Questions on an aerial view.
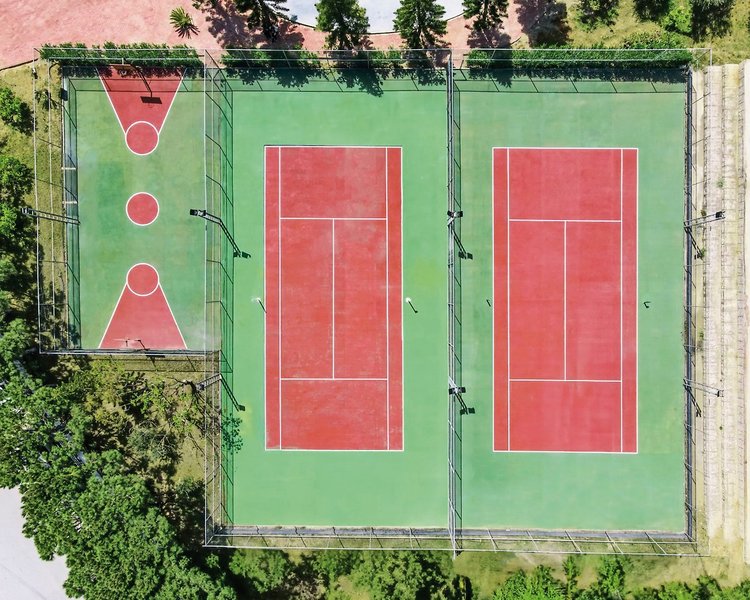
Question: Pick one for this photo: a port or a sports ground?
sports ground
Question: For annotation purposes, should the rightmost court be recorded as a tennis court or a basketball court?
tennis court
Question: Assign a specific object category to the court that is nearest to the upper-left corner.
basketball court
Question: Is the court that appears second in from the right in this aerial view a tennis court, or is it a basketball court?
tennis court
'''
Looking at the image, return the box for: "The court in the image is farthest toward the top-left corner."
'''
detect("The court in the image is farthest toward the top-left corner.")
[63,68,221,351]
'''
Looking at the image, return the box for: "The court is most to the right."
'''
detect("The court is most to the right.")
[448,68,685,533]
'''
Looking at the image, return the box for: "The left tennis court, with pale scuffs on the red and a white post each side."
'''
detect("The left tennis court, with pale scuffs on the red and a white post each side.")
[222,69,448,529]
